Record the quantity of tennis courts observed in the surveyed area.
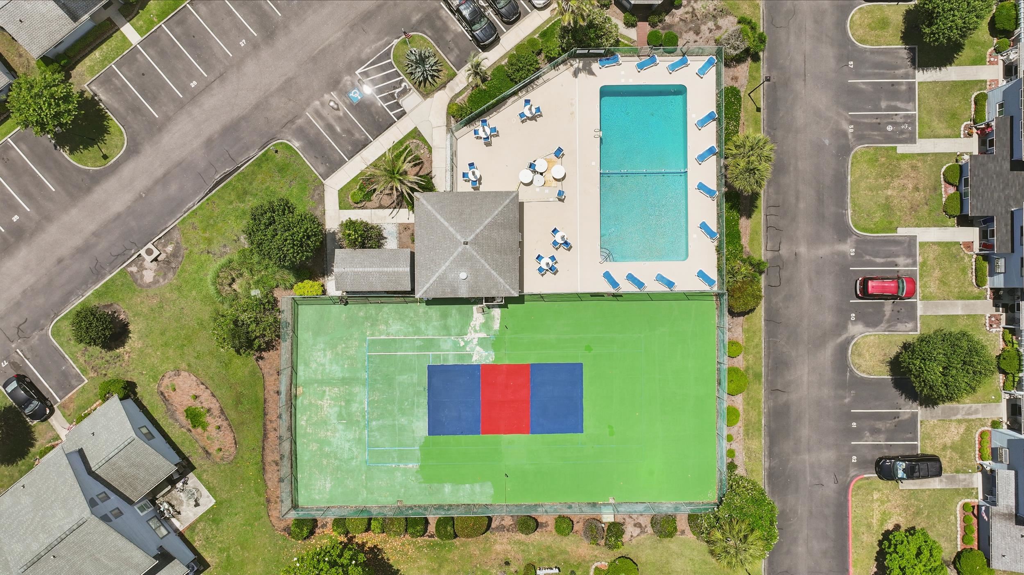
1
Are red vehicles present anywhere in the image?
Yes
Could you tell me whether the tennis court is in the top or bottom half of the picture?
bottom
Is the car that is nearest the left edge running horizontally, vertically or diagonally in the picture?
diagonally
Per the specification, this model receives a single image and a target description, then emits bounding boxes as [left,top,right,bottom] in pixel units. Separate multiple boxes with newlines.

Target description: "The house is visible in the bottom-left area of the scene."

[0,396,195,575]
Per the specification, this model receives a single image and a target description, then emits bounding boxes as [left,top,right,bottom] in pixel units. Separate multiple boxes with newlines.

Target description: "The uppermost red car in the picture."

[855,274,916,301]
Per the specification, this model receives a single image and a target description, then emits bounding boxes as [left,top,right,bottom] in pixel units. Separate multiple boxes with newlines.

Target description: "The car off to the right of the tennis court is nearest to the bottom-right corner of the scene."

[875,453,940,481]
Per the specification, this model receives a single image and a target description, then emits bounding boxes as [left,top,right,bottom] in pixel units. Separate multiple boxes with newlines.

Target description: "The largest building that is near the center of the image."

[413,189,522,298]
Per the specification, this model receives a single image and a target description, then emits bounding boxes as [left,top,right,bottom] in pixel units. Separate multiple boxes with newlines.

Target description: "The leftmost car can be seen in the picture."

[2,371,53,423]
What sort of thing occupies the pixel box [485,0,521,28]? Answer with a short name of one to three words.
car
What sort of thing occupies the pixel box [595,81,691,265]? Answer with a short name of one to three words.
swimming pool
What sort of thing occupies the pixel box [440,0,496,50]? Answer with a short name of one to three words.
truck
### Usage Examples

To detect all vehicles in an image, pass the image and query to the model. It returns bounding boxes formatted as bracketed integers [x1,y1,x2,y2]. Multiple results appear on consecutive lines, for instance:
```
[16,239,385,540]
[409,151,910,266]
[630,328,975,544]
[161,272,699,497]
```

[485,0,521,28]
[875,453,940,481]
[2,371,53,423]
[440,0,496,50]
[855,274,916,301]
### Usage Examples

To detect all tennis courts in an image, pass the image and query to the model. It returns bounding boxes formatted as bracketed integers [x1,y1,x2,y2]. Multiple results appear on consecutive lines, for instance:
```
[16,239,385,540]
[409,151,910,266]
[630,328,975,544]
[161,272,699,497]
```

[292,293,718,508]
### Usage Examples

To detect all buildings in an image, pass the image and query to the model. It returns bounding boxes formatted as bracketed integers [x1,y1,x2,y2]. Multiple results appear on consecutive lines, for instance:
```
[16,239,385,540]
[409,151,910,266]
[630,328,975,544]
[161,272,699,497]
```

[0,396,195,575]
[0,50,22,100]
[413,189,522,298]
[333,249,412,291]
[958,72,1024,289]
[0,0,108,60]
[978,430,1024,573]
